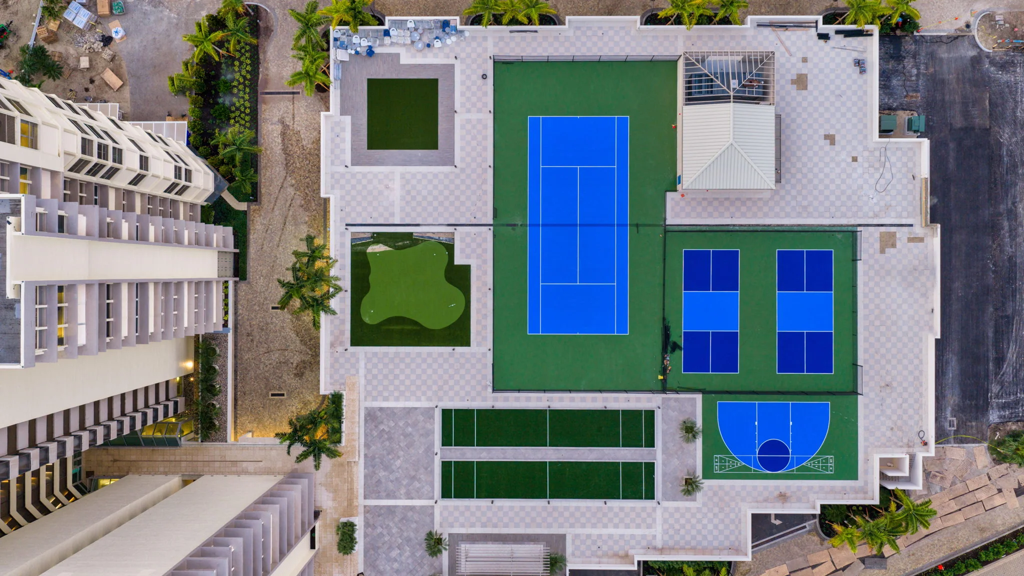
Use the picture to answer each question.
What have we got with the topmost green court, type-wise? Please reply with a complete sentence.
The topmost green court in the image is a tennis court.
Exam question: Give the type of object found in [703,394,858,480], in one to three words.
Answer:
basketball court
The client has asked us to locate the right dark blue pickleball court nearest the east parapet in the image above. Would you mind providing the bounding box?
[777,250,834,374]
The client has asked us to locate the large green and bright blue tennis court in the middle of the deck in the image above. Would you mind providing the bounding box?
[493,61,677,392]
